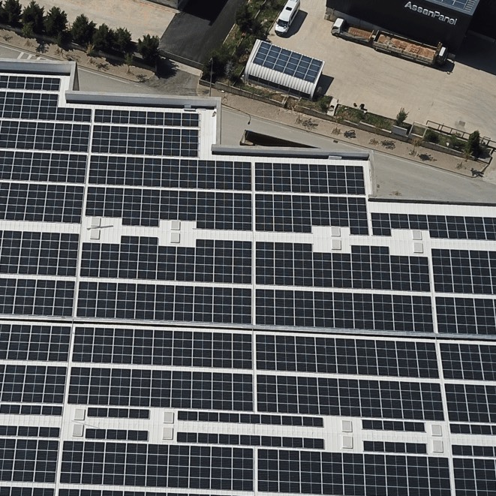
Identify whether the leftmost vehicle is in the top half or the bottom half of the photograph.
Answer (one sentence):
The leftmost vehicle sits in the top half of the picture.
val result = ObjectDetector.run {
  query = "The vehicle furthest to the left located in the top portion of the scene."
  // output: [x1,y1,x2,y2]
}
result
[274,0,299,36]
